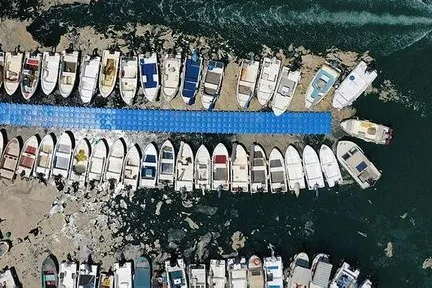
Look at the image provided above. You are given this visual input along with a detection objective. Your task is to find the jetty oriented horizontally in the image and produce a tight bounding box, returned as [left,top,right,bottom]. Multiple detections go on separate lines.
[0,102,333,136]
